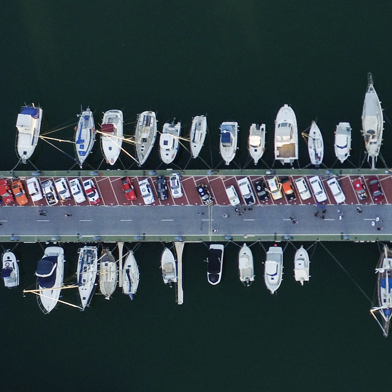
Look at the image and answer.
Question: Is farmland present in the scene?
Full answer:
No, there's no farmland in this view.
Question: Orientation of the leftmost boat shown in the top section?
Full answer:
I'd say the leftmost boat shown in the top section is aligned vertically in the picture.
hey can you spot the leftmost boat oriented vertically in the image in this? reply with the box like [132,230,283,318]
[0,245,19,287]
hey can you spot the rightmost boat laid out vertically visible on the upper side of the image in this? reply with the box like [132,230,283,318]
[359,72,386,169]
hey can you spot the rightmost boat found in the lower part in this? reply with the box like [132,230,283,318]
[322,242,392,337]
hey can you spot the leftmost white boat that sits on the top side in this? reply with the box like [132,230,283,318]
[10,105,44,171]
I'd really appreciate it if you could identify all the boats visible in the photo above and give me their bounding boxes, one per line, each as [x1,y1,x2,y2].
[203,242,227,285]
[34,242,68,313]
[231,242,258,284]
[10,105,44,171]
[272,100,300,168]
[322,242,392,337]
[158,115,210,169]
[0,245,19,287]
[248,122,268,169]
[333,123,353,165]
[218,122,239,168]
[98,111,158,169]
[260,242,286,296]
[103,252,141,296]
[97,109,124,170]
[301,121,327,170]
[160,245,178,285]
[155,120,181,170]
[294,244,312,284]
[98,245,119,299]
[24,245,99,310]
[39,109,98,169]
[359,72,386,169]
